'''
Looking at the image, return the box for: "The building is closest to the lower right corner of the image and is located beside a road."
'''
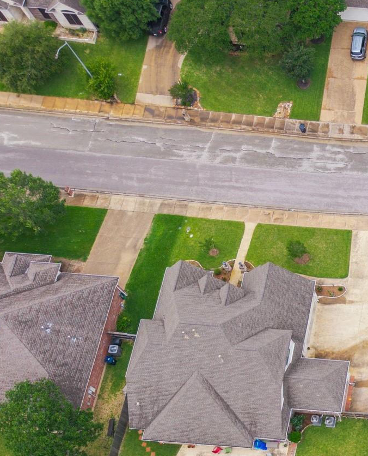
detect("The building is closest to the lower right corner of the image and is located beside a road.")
[125,260,352,454]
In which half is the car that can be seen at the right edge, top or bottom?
top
